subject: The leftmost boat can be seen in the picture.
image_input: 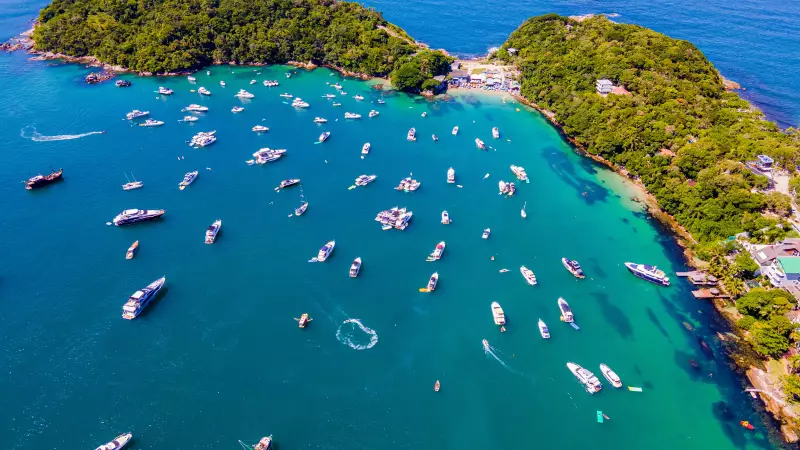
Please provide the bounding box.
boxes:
[27,163,61,187]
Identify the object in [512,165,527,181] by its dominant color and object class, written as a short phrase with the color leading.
white boat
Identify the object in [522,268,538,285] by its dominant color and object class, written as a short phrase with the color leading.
white boat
